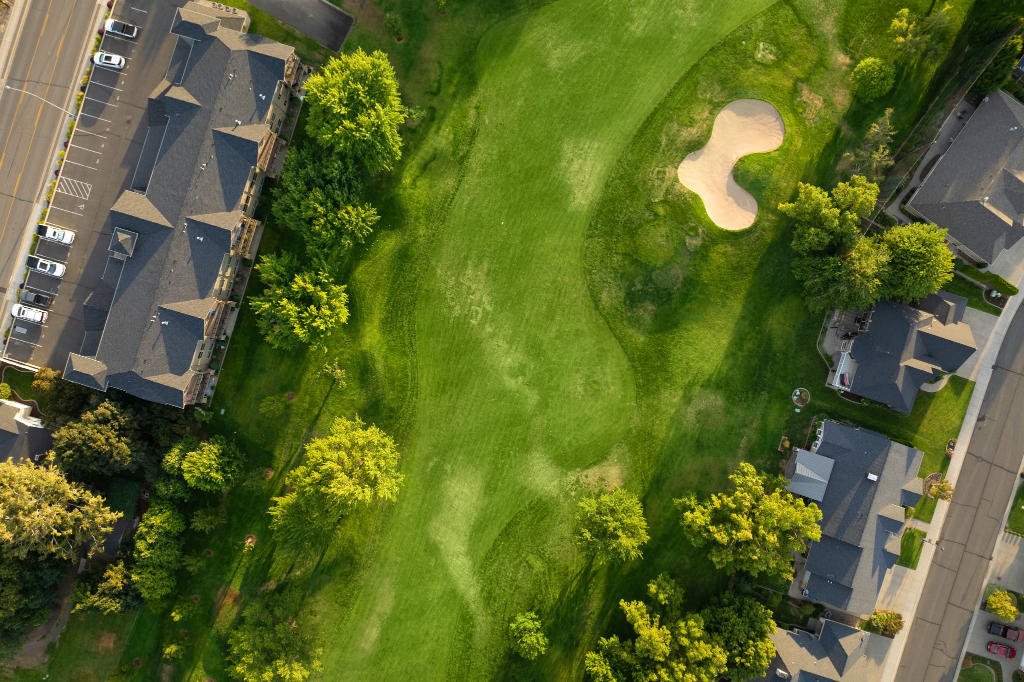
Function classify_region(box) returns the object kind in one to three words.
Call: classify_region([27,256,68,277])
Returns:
truck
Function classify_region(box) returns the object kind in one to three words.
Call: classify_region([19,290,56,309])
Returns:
vehicle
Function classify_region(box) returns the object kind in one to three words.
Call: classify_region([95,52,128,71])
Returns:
car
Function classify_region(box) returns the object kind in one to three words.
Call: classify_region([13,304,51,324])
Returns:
car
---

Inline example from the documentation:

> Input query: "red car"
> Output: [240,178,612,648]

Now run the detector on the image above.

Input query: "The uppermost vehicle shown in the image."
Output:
[105,19,142,40]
